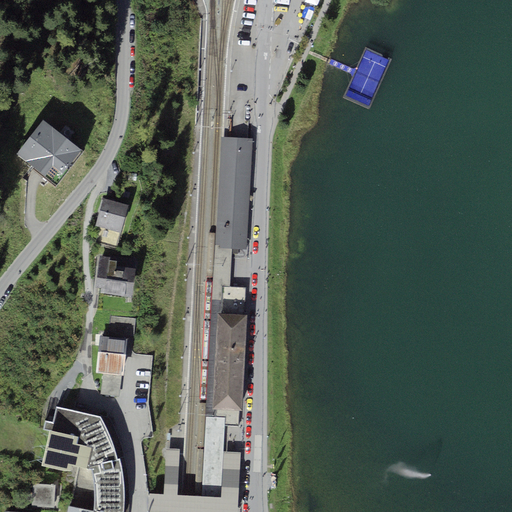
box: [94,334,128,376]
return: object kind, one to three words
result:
house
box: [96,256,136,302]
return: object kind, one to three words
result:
house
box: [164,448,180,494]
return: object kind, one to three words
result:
building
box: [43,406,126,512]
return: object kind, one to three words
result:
building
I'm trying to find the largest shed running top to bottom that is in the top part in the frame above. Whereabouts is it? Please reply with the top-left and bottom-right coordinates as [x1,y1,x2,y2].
[215,137,253,249]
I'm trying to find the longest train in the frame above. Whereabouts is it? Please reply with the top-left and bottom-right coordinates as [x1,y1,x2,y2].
[200,279,212,401]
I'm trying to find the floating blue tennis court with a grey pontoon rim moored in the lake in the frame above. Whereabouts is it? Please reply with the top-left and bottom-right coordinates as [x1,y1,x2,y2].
[343,47,392,108]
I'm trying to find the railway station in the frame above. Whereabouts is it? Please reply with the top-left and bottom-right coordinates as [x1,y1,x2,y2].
[170,0,240,462]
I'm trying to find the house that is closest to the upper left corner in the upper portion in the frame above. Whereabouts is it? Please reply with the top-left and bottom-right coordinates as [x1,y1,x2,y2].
[17,120,82,184]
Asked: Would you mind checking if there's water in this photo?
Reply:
Yes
